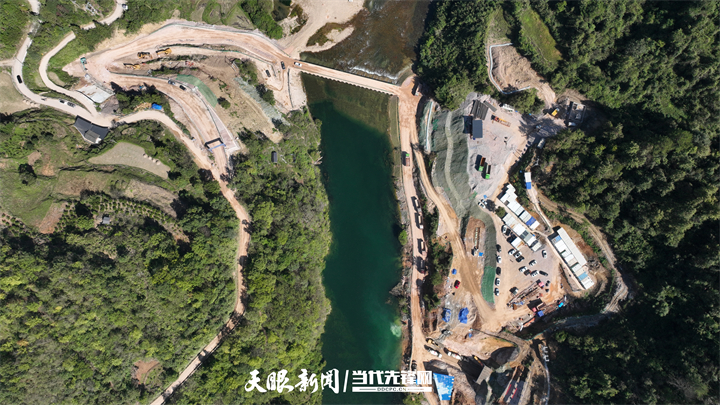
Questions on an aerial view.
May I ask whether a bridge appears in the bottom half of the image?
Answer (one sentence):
No, in the bottom half of the image there is no bridge.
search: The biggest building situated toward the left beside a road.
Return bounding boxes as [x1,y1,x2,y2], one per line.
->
[72,115,108,145]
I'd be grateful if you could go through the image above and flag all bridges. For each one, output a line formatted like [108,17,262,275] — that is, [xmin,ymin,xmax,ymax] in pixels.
[291,57,405,98]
